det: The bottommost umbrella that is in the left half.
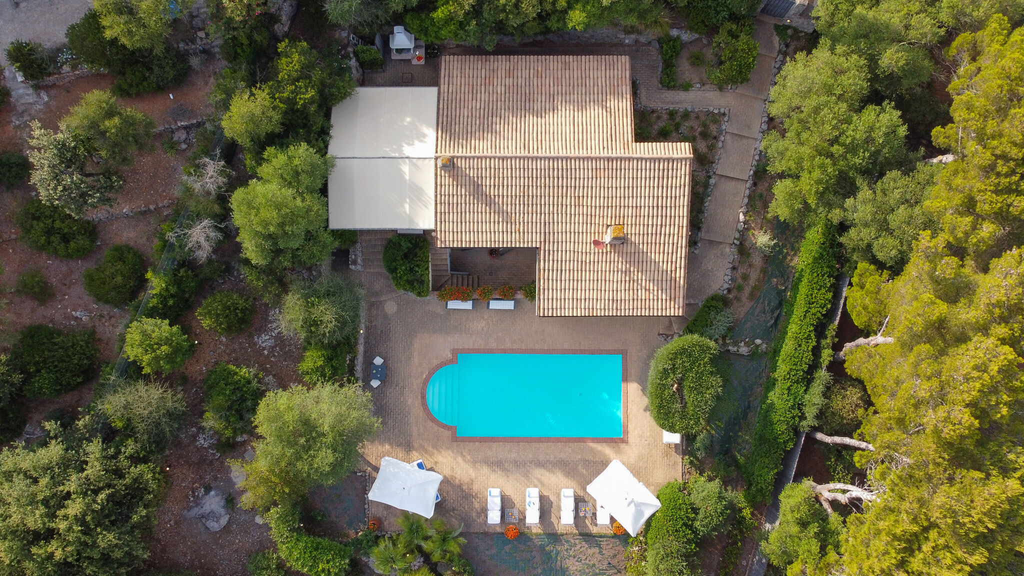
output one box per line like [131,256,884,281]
[368,456,444,519]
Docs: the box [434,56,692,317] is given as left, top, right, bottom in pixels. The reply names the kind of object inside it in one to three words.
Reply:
house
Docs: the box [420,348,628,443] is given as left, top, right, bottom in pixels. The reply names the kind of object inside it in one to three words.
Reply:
swimming pool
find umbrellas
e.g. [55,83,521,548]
[586,460,660,537]
[368,456,444,519]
